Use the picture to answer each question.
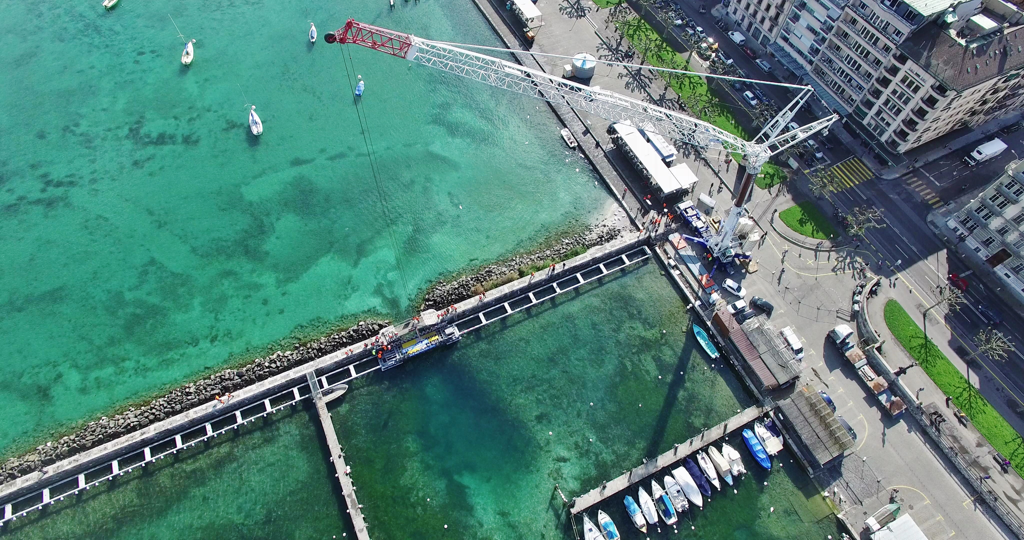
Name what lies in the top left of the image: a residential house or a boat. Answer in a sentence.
You can see a boat in the top left of the image.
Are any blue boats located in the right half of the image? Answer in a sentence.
Yes, I can see a blue boat in the right half of the image.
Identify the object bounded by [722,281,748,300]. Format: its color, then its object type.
white car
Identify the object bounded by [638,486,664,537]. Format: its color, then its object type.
white boat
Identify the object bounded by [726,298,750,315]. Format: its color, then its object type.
white car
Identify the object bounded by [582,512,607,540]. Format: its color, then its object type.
white boat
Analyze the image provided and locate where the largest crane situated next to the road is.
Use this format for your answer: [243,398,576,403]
[327,11,840,330]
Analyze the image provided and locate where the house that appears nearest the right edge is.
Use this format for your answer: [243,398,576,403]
[948,153,1024,303]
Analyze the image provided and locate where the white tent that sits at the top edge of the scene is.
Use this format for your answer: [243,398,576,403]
[514,0,542,28]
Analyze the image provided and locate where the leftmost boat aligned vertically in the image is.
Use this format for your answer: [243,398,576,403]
[173,21,194,70]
